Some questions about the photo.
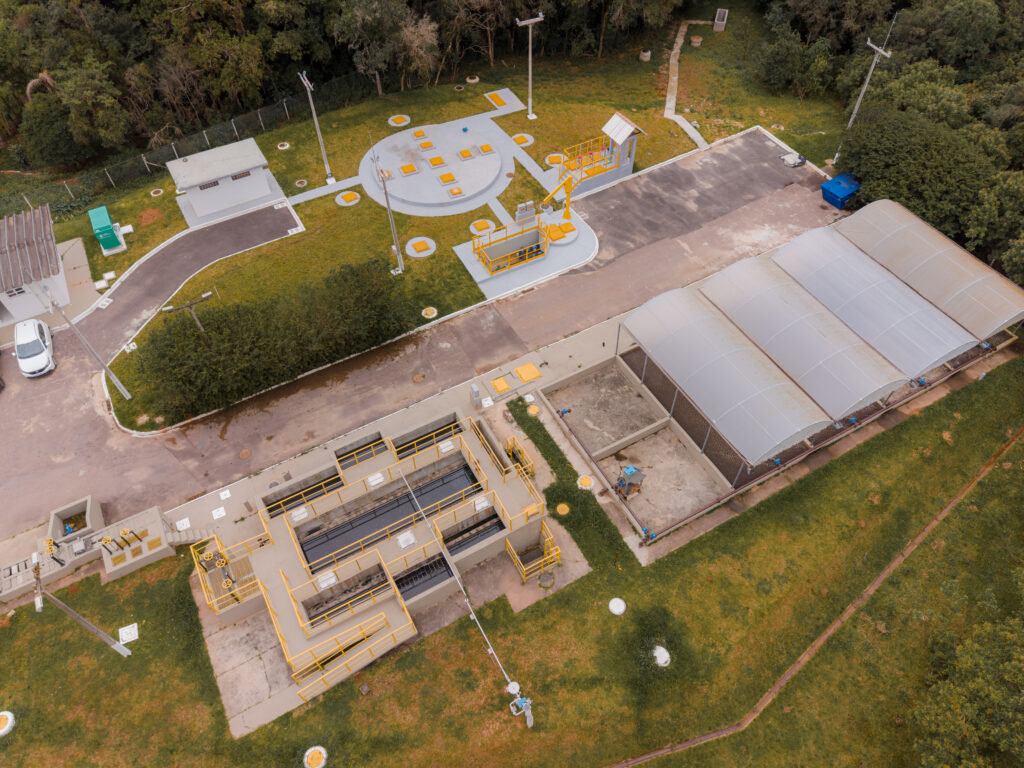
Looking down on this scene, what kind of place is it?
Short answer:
industrial area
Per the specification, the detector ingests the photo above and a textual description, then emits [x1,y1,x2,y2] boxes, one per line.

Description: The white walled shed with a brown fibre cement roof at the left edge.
[0,204,70,322]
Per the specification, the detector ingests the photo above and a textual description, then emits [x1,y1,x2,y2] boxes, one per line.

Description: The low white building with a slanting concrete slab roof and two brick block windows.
[165,134,274,217]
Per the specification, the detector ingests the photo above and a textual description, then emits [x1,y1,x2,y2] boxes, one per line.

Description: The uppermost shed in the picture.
[600,112,647,168]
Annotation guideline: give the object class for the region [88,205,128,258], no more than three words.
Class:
building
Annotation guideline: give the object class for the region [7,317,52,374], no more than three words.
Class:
car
